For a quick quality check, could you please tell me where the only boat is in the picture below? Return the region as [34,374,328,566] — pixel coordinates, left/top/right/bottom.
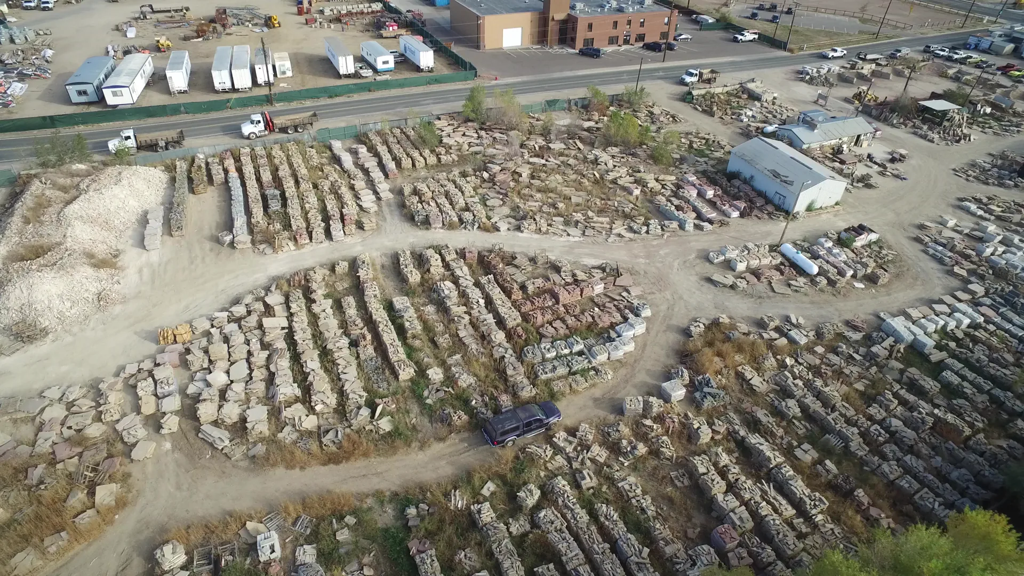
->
[356,60,371,73]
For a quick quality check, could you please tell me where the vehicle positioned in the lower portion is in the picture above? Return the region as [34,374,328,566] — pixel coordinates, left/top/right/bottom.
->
[483,400,566,447]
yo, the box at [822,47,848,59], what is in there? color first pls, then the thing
white vehicle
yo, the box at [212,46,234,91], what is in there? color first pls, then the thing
white trailer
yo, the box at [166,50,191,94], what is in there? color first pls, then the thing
white trailer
